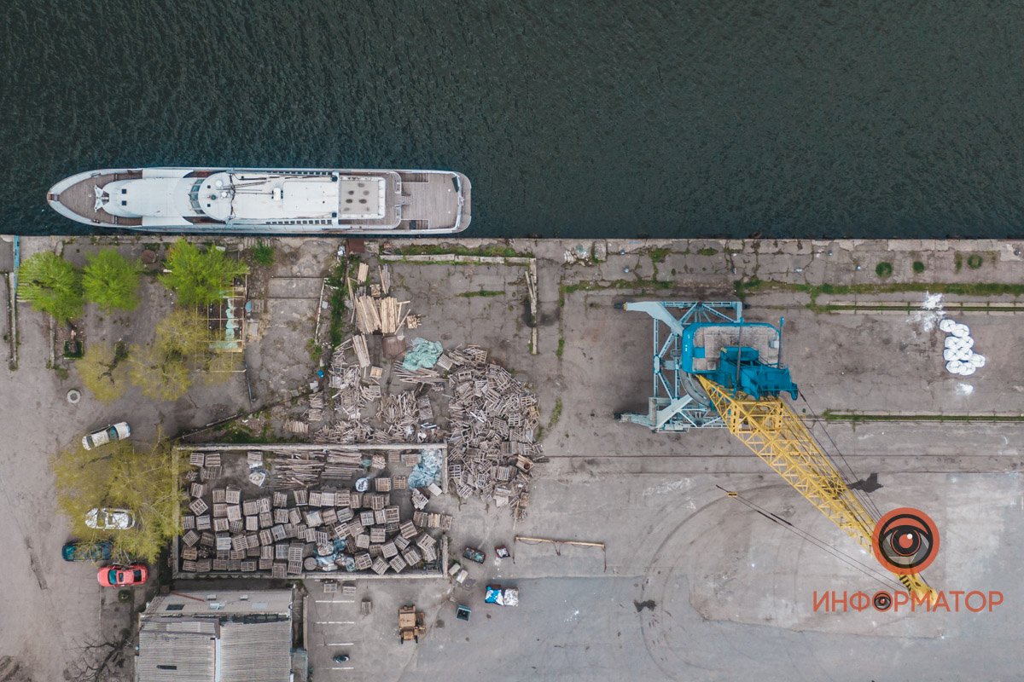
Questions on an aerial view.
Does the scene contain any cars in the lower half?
Yes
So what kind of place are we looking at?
port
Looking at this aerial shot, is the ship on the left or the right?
left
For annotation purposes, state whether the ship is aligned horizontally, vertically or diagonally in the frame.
horizontally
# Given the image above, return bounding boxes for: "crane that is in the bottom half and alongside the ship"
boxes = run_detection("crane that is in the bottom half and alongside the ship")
[614,296,939,610]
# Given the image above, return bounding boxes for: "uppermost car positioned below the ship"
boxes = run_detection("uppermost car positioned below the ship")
[80,421,134,450]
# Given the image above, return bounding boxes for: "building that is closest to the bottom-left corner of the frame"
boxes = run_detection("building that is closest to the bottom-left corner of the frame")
[135,579,301,682]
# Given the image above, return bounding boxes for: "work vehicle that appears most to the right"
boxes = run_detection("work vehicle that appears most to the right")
[399,603,426,644]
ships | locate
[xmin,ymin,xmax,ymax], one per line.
[47,166,472,236]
